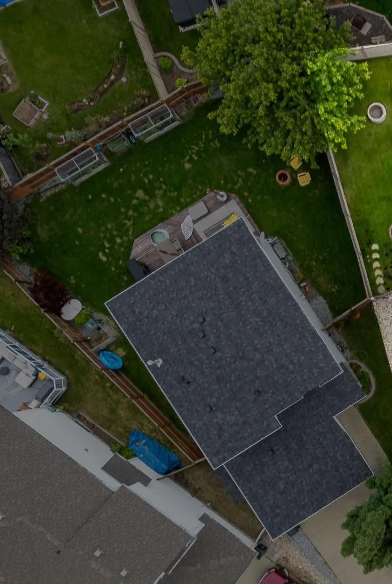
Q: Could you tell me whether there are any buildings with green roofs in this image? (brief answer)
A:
No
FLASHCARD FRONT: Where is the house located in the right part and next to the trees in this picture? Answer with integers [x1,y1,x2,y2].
[104,215,374,540]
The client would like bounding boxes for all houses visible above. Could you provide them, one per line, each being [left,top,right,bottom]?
[104,215,374,540]
[0,400,260,584]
